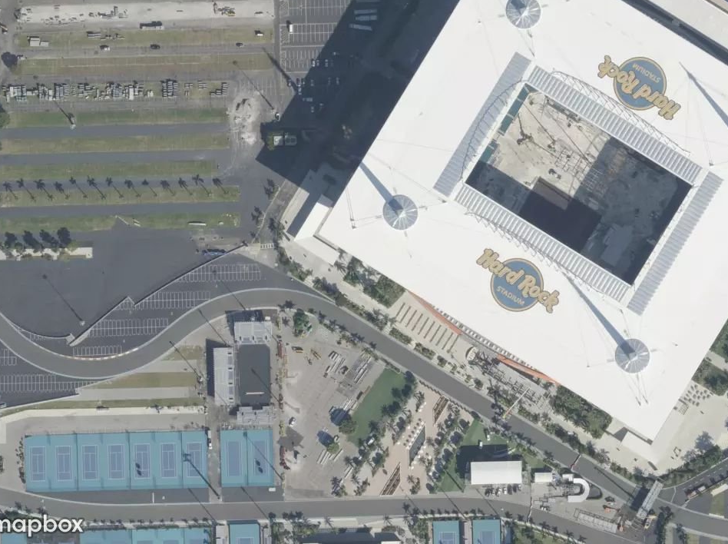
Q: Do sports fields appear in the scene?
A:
Yes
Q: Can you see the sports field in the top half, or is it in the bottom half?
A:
top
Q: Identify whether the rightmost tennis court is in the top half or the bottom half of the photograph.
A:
bottom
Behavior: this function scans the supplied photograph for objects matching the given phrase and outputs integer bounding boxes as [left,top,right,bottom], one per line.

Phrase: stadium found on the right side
[294,0,728,464]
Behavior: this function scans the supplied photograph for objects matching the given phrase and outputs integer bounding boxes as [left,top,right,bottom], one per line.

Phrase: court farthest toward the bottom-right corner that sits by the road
[473,519,500,544]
